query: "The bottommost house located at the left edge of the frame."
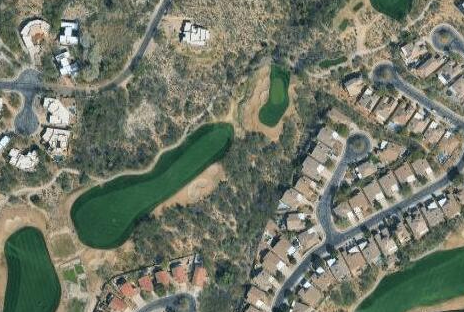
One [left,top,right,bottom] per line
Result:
[6,149,38,171]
